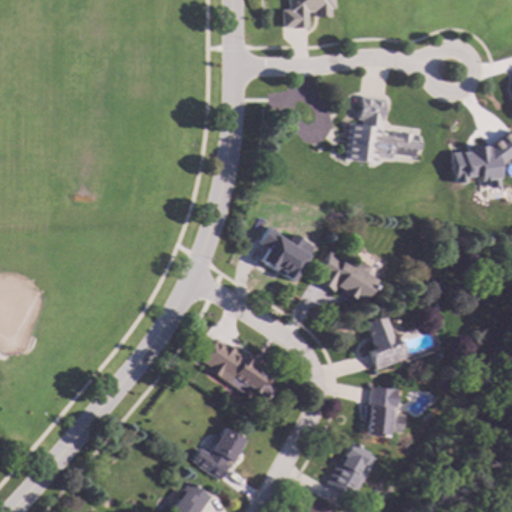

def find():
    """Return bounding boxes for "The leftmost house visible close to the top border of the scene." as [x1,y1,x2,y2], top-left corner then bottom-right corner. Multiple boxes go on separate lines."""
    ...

[283,0,340,29]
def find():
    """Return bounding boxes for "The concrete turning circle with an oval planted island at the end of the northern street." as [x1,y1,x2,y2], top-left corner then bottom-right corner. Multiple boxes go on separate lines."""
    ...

[415,42,480,103]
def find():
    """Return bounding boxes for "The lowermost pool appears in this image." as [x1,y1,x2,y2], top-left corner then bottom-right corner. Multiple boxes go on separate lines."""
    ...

[405,390,435,417]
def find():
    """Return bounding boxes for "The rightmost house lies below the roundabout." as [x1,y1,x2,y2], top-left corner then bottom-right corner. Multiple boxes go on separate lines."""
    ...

[450,133,512,186]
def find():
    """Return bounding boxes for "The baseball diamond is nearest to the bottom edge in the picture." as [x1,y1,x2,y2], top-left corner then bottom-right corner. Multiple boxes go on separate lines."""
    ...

[0,272,42,362]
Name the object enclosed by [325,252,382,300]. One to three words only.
house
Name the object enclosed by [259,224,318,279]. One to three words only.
house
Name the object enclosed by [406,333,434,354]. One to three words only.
swimming pool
